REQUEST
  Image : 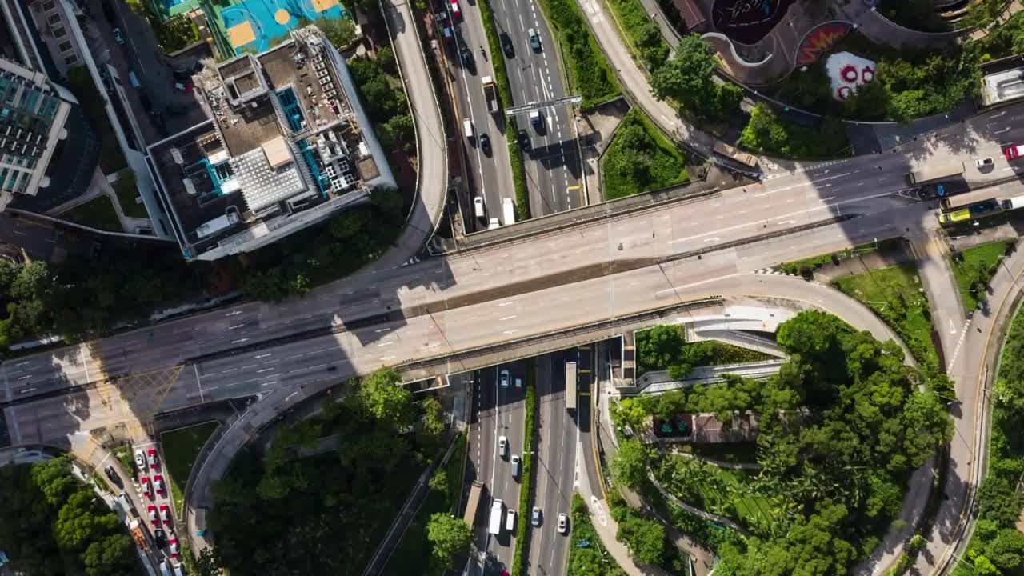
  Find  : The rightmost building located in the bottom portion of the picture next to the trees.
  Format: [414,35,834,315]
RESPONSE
[693,413,757,443]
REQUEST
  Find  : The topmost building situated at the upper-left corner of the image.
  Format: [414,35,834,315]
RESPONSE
[29,0,95,86]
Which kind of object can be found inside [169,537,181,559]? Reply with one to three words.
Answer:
vehicle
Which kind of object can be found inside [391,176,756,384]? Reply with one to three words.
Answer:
overpass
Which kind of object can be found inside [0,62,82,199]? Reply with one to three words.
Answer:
building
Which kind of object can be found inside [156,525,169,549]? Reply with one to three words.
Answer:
vehicle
